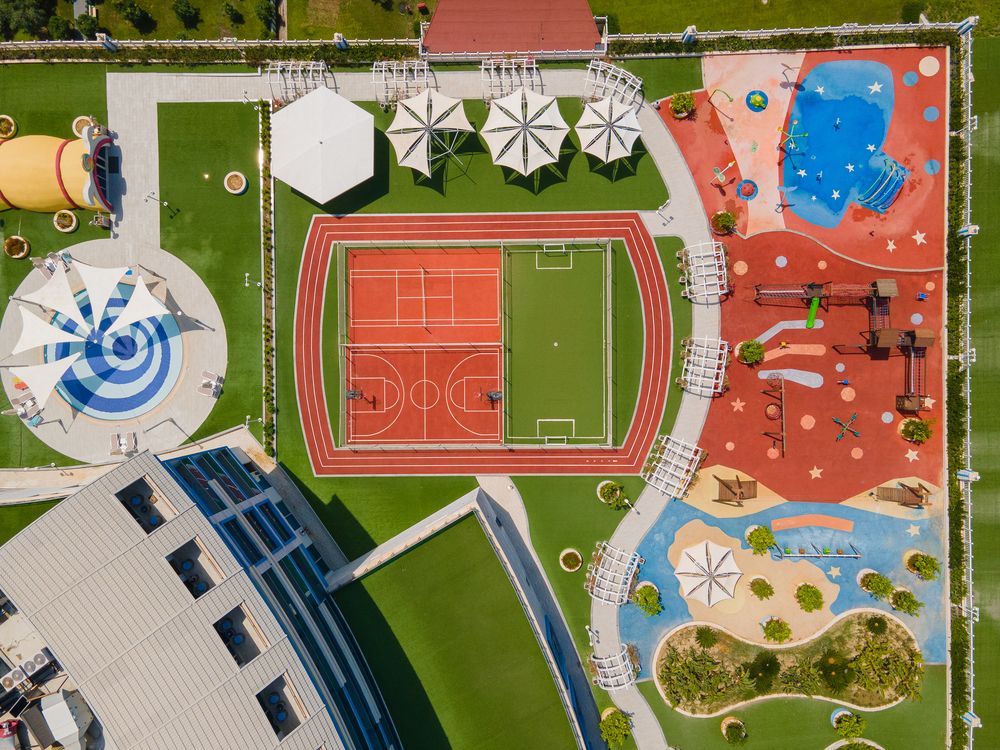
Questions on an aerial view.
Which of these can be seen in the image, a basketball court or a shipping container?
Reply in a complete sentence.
I can see a basketball court in this picture.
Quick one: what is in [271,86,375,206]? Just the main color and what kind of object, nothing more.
white tent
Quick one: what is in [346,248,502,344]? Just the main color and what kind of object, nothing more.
red tennis court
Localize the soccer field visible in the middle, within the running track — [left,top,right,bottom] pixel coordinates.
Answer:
[503,244,607,445]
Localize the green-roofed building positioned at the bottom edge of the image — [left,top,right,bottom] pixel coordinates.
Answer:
[320,489,587,750]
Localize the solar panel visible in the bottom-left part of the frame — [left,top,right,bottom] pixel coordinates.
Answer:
[8,694,31,718]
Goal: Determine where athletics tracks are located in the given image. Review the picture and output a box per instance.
[293,210,675,478]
